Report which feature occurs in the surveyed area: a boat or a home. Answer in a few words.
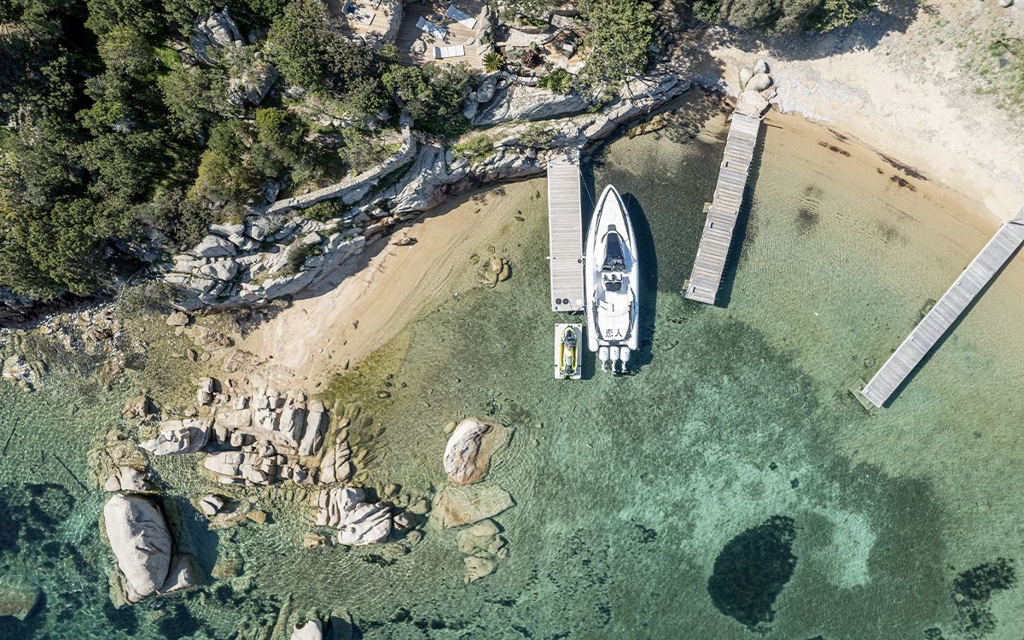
boat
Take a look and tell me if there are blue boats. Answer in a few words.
No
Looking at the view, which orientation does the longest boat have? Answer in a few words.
up and down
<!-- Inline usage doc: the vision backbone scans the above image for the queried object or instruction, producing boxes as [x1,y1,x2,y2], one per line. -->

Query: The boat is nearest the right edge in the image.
[585,184,638,374]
